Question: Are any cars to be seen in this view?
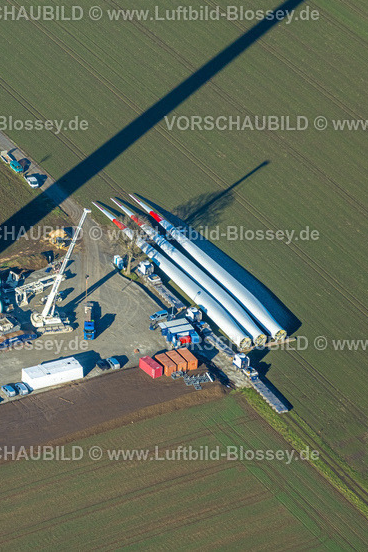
Yes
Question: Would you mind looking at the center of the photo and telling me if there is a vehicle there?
Yes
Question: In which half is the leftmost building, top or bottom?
bottom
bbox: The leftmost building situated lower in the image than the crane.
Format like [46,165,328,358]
[24,364,51,389]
